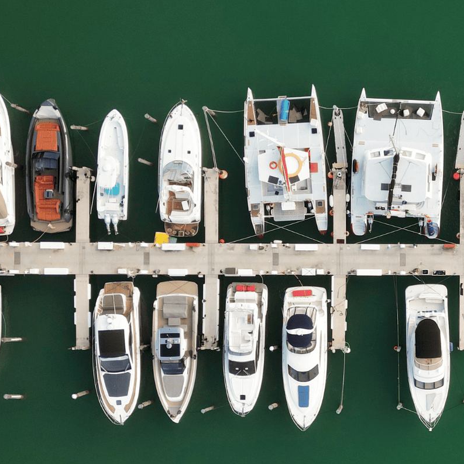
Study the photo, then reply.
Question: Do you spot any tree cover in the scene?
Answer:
No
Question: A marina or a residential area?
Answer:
marina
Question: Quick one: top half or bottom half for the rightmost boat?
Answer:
bottom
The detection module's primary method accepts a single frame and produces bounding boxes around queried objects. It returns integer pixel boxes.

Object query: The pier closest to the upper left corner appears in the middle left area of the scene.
[73,167,94,242]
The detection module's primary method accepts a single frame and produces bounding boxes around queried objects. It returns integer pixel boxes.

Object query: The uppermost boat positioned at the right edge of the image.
[351,88,443,239]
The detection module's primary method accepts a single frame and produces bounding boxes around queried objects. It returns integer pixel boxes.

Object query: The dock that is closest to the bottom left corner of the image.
[72,274,94,350]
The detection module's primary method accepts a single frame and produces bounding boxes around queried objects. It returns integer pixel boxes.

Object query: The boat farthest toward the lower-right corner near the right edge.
[407,284,453,429]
